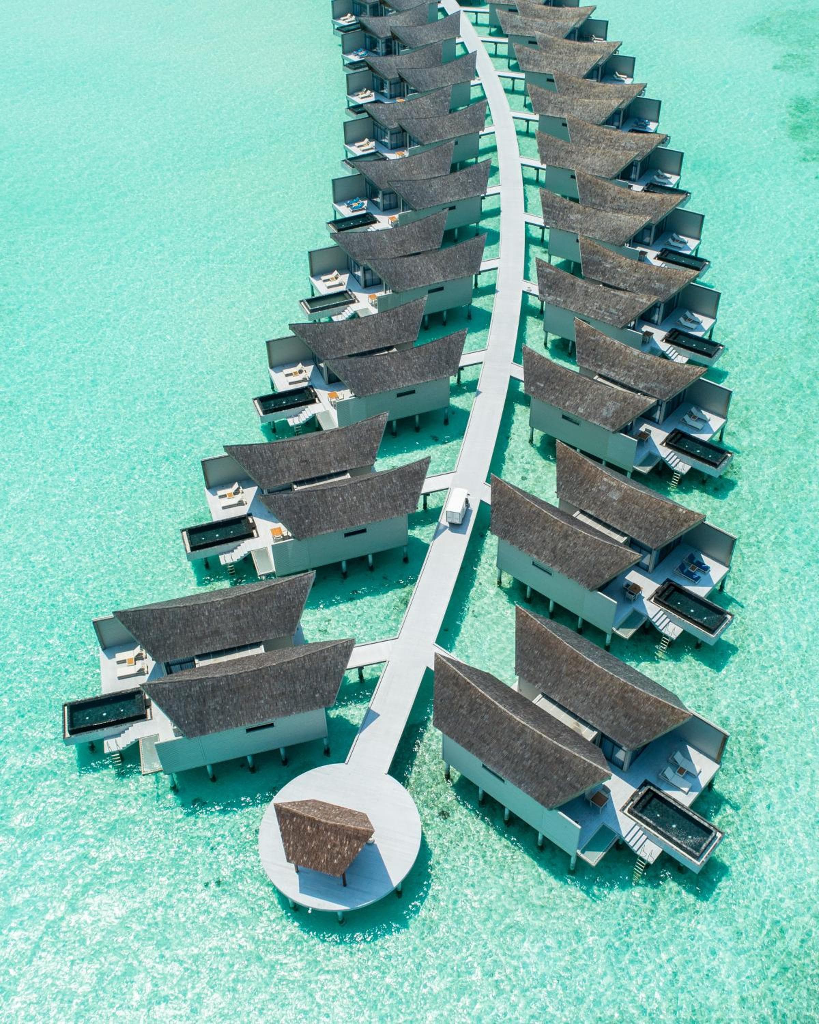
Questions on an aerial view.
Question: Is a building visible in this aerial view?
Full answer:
Yes, you can see a building in this photo.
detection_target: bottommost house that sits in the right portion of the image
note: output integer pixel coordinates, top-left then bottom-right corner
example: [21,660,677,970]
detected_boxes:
[431,605,730,883]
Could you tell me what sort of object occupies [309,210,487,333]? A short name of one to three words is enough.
house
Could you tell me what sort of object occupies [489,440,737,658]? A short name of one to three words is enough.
house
